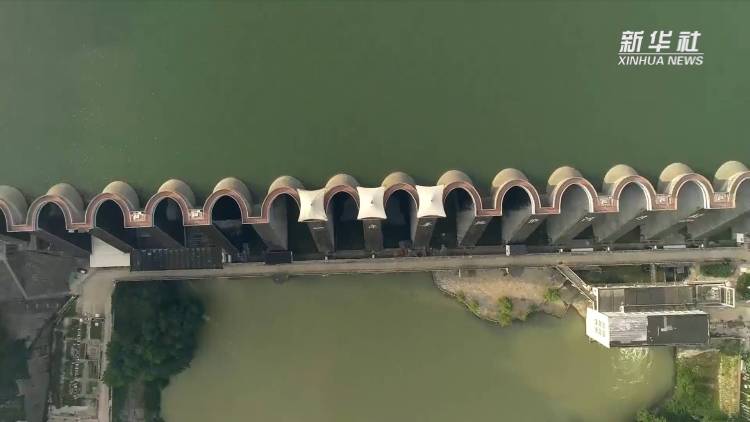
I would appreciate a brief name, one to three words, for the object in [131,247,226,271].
shed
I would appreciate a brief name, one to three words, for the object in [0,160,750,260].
dam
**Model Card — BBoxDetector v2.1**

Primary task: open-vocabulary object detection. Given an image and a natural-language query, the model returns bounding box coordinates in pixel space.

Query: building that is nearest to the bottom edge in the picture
[588,306,711,349]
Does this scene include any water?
Yes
